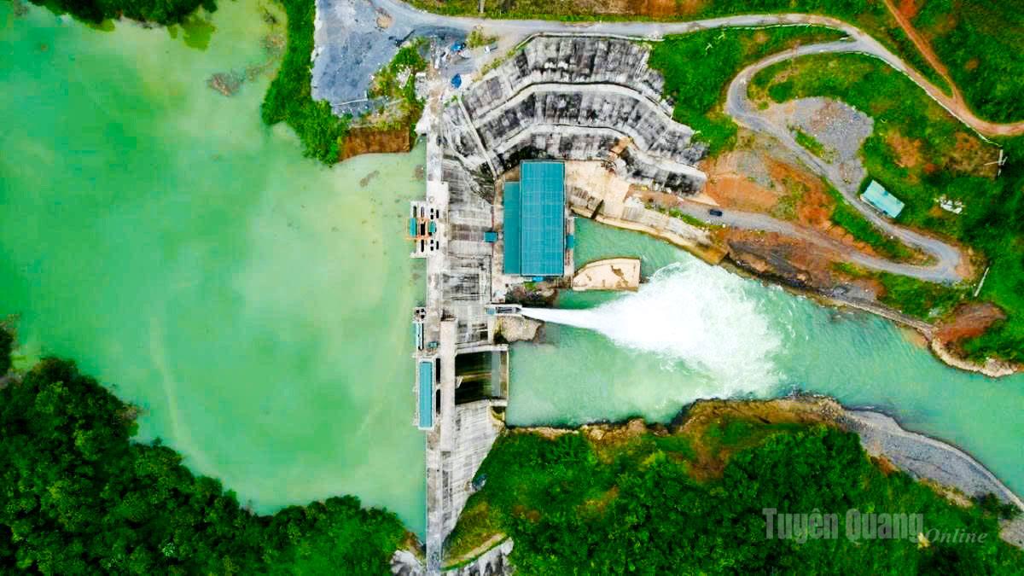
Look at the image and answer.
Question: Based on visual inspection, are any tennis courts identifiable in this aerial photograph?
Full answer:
No, there is no tennis court in the image.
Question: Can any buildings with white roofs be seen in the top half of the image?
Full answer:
No, no building with a white roof appears in the top half of the image.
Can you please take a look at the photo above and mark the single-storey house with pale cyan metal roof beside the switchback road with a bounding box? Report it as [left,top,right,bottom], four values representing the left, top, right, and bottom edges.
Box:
[857,180,904,217]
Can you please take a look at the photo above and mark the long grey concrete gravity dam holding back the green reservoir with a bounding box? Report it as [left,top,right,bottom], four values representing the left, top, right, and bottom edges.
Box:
[410,121,508,559]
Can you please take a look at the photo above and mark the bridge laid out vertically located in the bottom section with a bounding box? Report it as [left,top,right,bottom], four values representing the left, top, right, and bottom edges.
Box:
[440,319,457,450]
